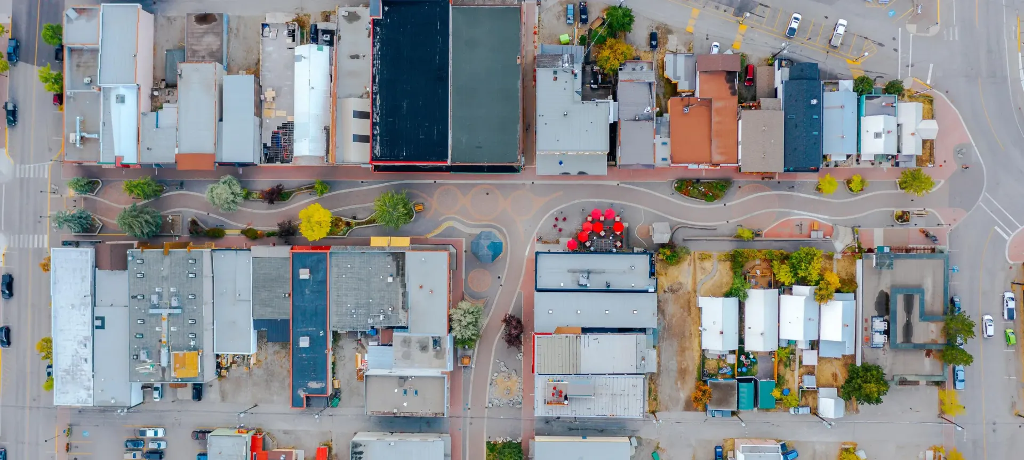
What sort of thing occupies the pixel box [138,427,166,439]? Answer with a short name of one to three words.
vehicle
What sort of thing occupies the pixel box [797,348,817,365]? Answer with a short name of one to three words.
shed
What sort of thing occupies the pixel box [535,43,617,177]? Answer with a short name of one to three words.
building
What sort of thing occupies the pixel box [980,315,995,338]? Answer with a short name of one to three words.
car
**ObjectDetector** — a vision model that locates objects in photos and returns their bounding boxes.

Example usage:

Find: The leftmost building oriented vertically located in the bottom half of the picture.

[52,243,99,406]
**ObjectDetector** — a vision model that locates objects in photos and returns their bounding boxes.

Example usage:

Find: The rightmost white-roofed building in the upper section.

[893,101,939,167]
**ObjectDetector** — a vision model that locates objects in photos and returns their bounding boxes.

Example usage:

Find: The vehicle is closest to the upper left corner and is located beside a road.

[6,38,20,63]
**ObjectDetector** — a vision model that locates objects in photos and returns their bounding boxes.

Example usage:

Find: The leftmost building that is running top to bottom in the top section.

[63,5,102,165]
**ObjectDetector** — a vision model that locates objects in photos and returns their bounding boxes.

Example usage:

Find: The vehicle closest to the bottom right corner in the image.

[953,366,966,389]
